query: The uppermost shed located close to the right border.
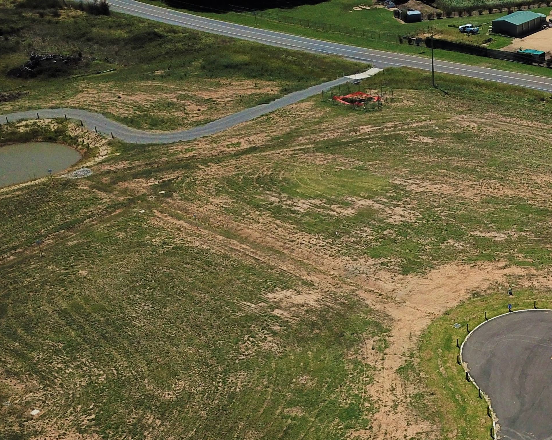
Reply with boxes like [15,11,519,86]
[491,9,542,38]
